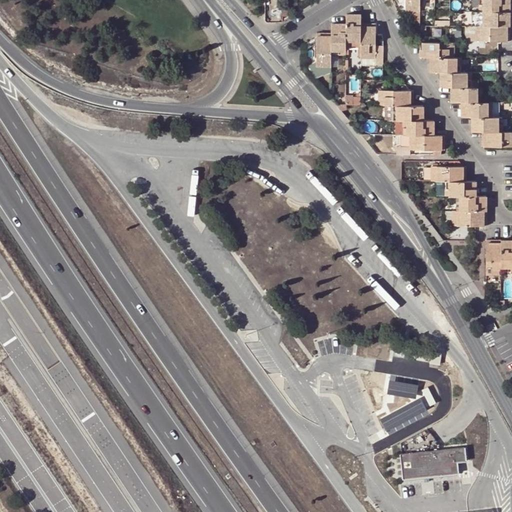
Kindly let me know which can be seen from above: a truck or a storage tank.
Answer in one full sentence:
The image shows a truck.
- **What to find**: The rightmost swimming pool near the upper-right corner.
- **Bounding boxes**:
[480,60,498,73]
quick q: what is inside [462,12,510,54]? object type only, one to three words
house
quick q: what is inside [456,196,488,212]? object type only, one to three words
house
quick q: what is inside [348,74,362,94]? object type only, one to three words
swimming pool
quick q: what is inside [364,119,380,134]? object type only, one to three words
swimming pool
